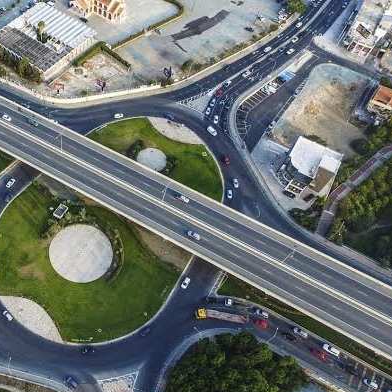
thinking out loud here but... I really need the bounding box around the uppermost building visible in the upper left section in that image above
[74,0,133,30]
